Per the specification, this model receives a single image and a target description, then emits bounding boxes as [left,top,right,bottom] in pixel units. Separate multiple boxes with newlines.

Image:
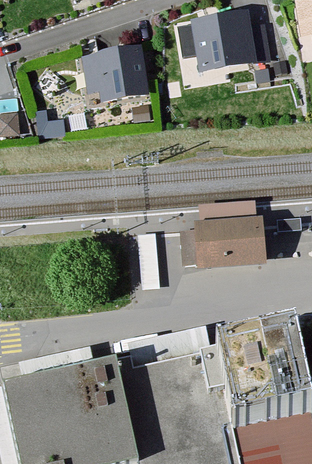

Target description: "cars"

[136,18,150,43]
[0,42,20,57]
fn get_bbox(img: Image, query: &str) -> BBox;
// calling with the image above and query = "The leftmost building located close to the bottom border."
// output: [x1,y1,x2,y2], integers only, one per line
[0,346,138,464]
